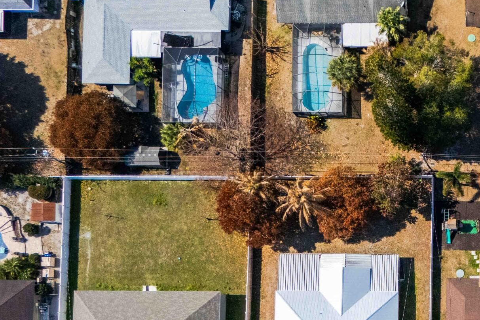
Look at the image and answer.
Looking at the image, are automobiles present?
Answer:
No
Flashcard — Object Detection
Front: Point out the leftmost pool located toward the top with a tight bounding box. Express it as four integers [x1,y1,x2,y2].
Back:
[176,53,218,119]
